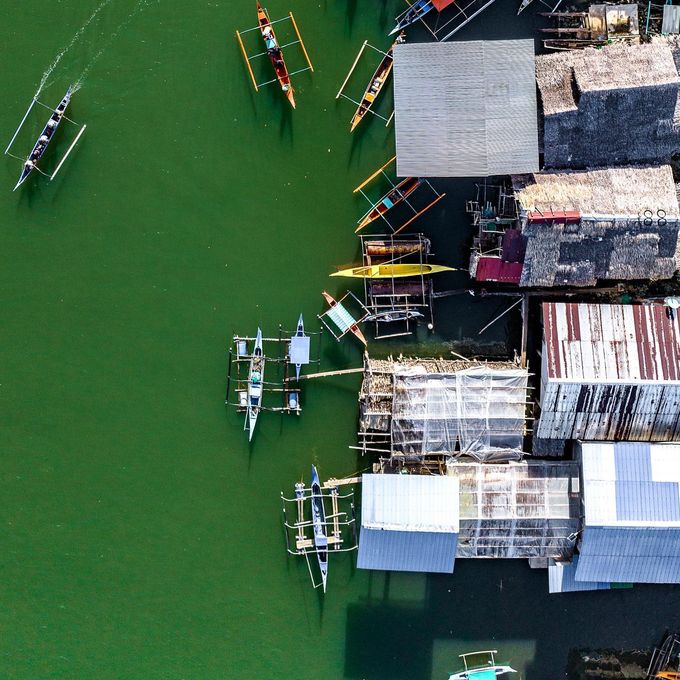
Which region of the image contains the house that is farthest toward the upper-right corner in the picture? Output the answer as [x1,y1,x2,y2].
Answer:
[536,31,680,173]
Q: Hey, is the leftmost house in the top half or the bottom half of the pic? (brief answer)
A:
bottom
